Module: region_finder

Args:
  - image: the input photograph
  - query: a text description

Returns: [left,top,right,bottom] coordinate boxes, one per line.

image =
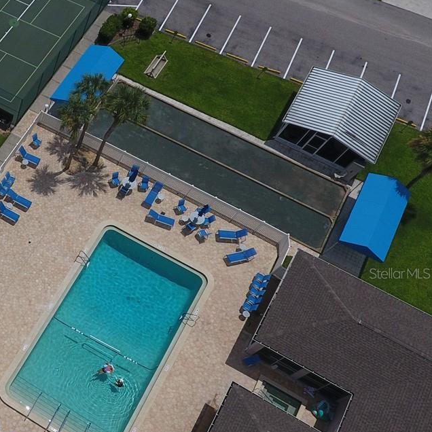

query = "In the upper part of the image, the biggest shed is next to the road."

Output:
[273,67,401,172]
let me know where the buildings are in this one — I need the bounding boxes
[205,247,432,432]
[273,67,401,172]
